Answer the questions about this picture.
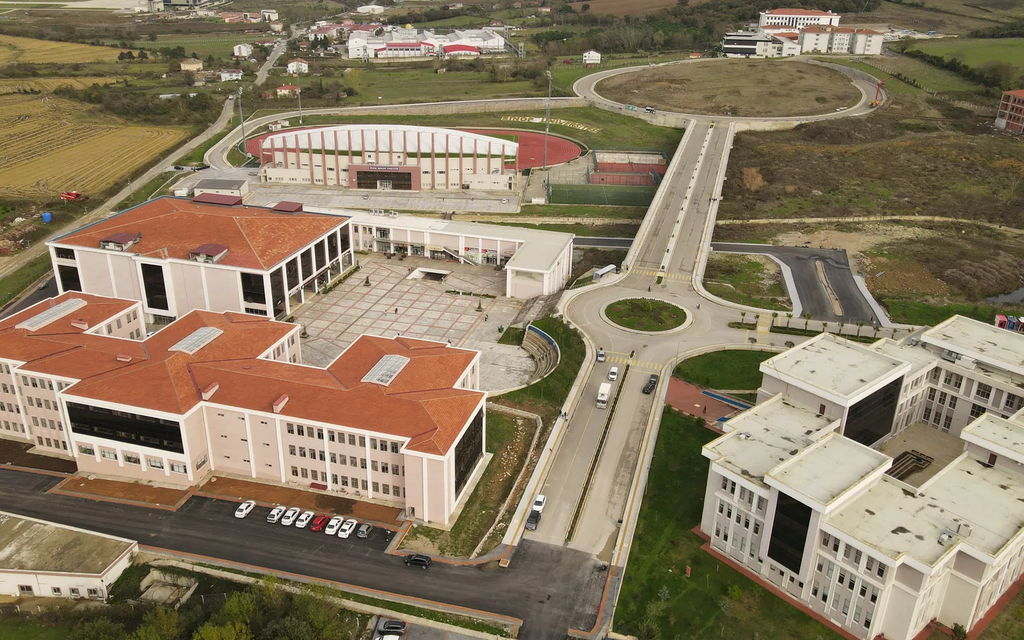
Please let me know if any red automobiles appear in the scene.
Yes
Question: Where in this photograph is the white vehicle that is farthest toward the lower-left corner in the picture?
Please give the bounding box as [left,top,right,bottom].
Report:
[232,499,256,517]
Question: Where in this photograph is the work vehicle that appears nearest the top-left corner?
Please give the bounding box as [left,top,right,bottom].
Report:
[55,188,91,204]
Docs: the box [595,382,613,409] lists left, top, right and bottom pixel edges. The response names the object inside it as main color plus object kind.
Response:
white vehicle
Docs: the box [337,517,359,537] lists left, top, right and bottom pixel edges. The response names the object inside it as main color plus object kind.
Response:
white car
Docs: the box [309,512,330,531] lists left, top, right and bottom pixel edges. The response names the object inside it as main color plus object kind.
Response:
red car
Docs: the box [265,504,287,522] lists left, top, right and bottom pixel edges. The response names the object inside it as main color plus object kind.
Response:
white car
